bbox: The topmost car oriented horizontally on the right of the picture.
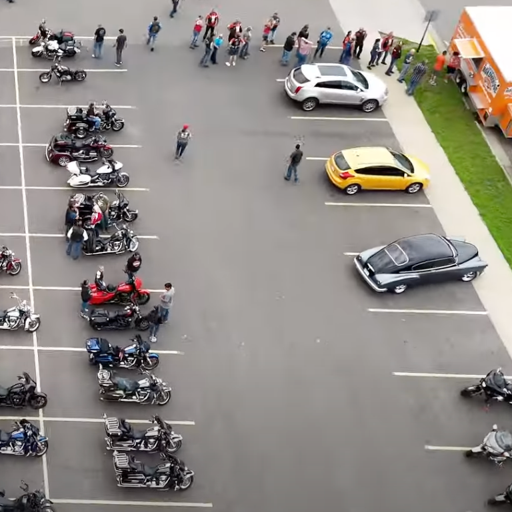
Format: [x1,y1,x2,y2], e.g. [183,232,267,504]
[283,61,391,111]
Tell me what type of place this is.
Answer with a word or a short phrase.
parking lot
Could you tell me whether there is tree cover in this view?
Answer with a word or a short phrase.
No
